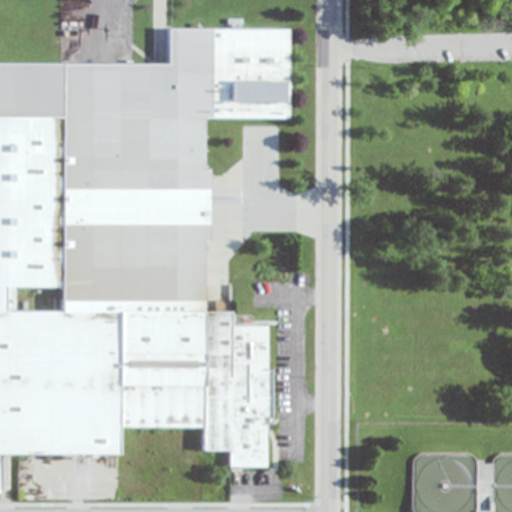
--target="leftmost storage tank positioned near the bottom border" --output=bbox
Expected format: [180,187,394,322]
[412,453,476,512]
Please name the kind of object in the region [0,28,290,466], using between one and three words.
building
